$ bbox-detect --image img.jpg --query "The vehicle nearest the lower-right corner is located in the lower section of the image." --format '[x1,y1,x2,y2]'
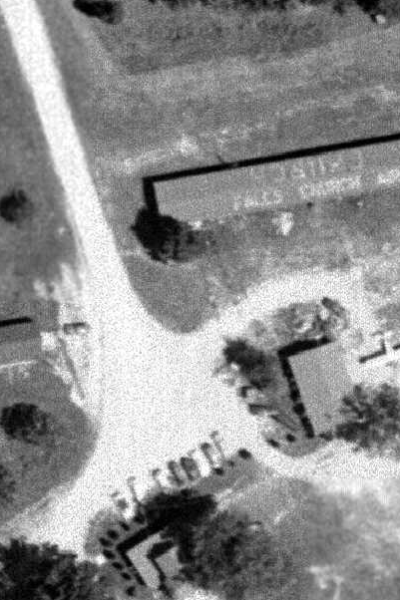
[266,411,292,434]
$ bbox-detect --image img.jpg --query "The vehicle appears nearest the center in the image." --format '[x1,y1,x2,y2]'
[225,364,251,383]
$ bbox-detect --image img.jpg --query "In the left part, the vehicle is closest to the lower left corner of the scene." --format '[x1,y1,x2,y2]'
[114,490,134,518]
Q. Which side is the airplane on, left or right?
right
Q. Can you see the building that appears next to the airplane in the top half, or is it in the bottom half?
bottom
